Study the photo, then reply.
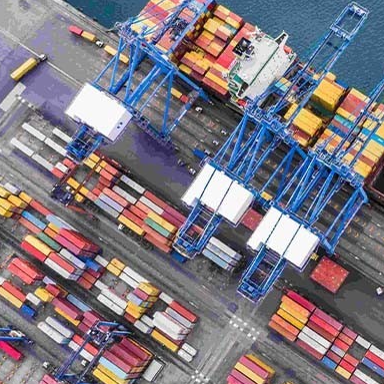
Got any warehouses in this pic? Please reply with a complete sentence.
No, I find no warehouse anywhere in the image.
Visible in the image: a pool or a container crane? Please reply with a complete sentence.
Of the two, only a container crane appears.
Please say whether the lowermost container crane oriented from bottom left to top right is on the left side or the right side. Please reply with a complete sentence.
The lowermost container crane oriented from bottom left to top right is on the left side of the image.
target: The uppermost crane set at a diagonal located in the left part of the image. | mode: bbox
[49,0,209,177]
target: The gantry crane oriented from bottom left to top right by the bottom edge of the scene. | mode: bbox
[54,318,139,384]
